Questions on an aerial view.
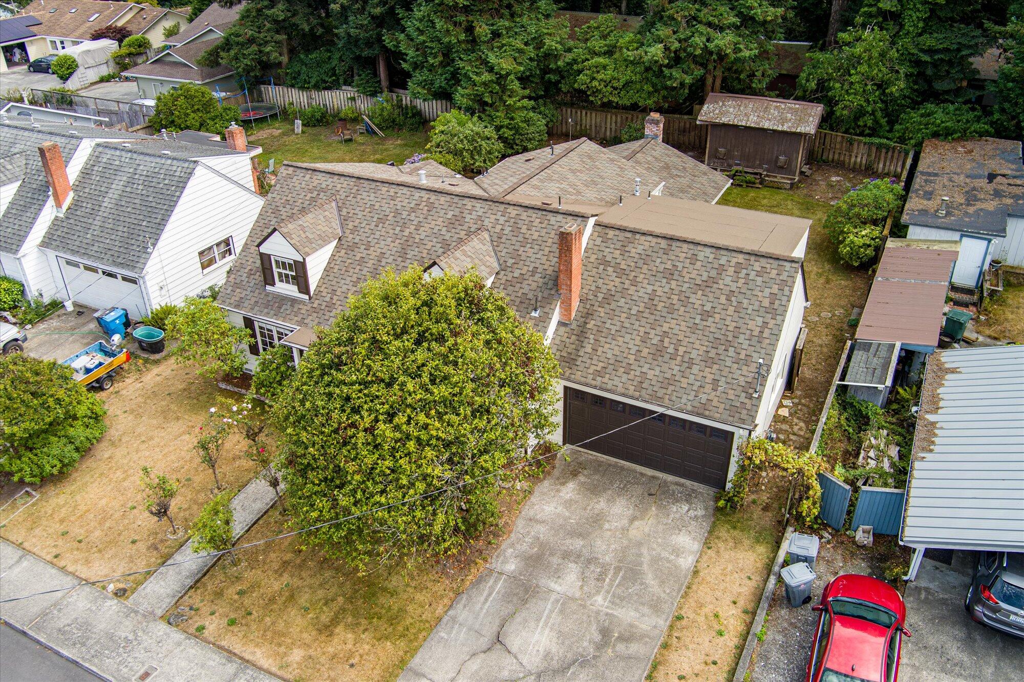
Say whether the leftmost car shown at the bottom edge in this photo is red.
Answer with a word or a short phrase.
Yes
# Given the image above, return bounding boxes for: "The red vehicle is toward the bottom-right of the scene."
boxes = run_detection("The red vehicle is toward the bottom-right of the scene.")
[800,567,919,682]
